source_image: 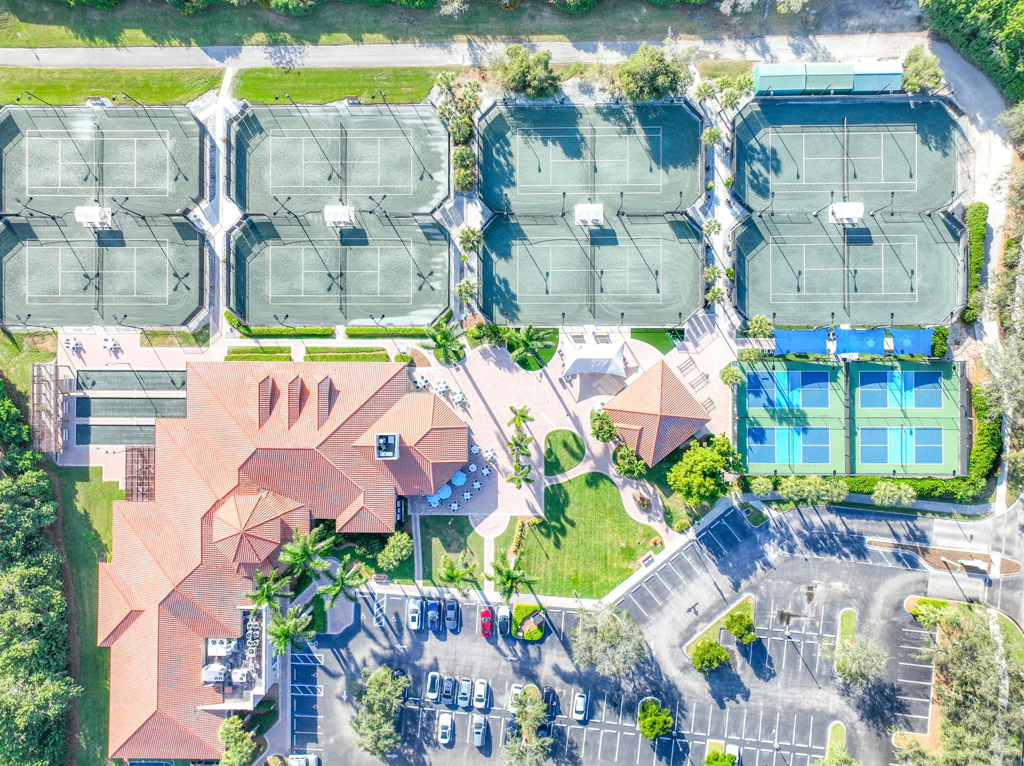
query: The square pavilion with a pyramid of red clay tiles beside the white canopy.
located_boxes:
[603,359,711,469]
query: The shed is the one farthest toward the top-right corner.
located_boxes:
[848,62,904,94]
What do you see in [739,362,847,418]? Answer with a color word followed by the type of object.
blue sports court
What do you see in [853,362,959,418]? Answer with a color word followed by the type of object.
blue sports court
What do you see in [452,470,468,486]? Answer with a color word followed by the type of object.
blue umbrella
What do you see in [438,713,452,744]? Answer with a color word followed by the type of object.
white car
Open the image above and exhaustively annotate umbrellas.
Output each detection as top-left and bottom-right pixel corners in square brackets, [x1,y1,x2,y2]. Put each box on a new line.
[438,483,453,499]
[452,470,468,486]
[428,493,443,507]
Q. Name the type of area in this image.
sports ground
